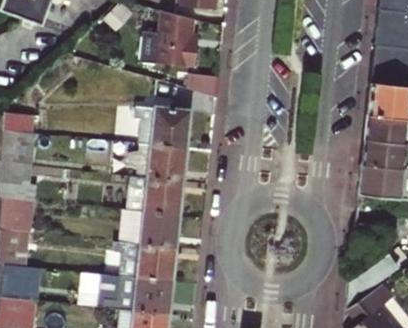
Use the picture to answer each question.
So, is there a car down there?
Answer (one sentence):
Yes, the photo shows a car.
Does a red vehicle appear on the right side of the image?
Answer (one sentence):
Yes, on the right side of the image there is a red vehicle.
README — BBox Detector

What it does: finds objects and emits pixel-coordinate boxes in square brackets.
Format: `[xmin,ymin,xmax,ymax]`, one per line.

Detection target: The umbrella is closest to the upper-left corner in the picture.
[112,142,126,156]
